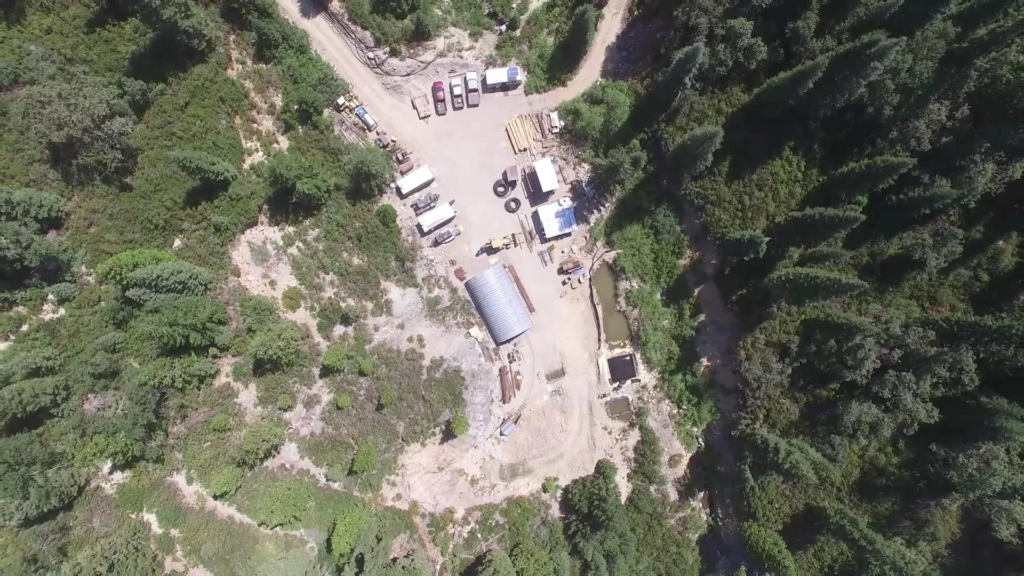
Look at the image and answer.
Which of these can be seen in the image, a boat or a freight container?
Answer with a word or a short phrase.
freight container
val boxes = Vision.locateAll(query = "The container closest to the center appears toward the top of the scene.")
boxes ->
[418,197,462,234]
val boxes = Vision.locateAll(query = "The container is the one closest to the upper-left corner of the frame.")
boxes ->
[397,165,436,197]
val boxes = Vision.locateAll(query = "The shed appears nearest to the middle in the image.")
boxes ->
[465,265,534,344]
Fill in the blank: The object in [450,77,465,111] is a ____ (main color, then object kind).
white vehicle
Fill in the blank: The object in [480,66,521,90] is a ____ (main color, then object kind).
white vehicle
